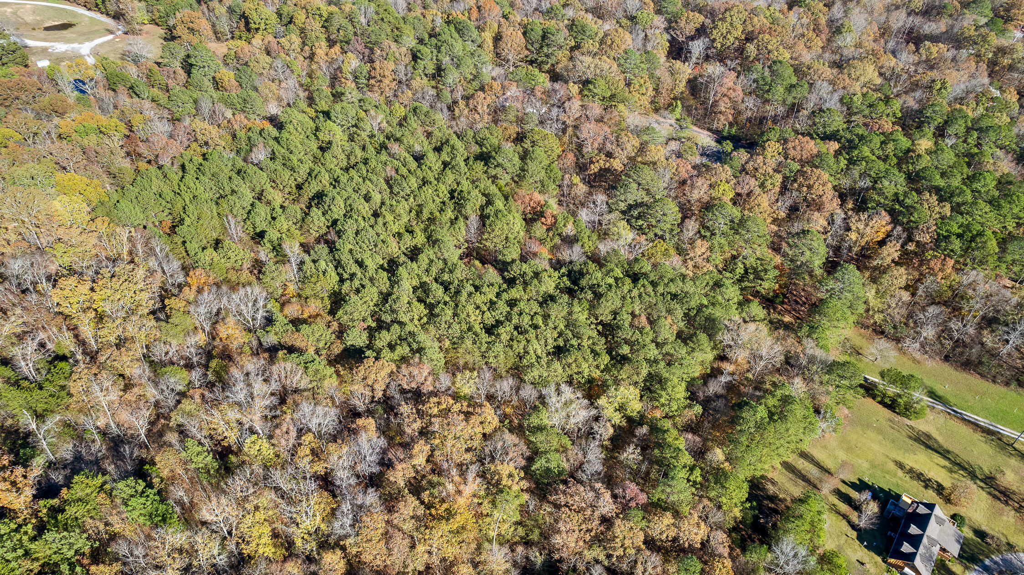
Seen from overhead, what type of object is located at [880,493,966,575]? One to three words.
house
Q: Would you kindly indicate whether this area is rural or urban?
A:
rural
